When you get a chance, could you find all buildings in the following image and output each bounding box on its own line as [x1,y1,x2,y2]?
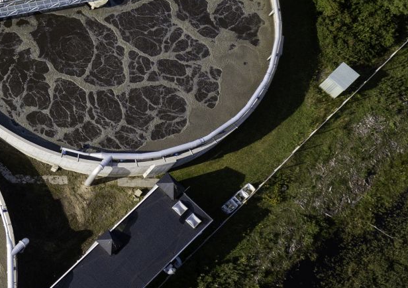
[313,60,361,104]
[38,177,208,288]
